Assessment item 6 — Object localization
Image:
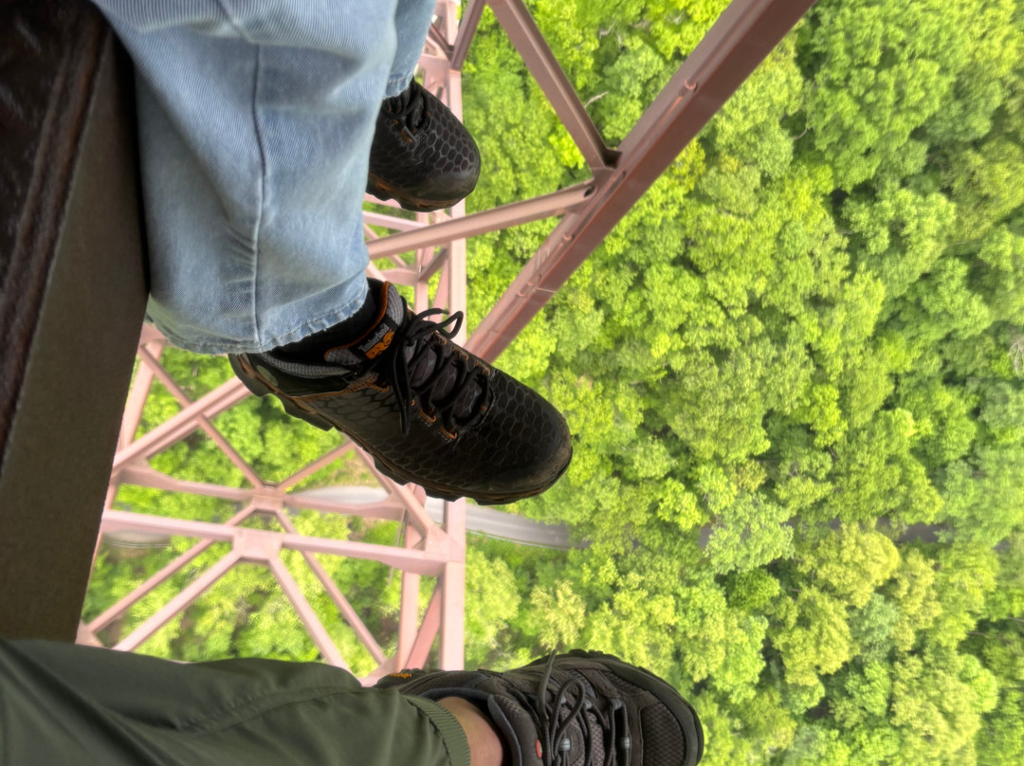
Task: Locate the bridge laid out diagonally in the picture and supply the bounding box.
[71,0,816,669]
